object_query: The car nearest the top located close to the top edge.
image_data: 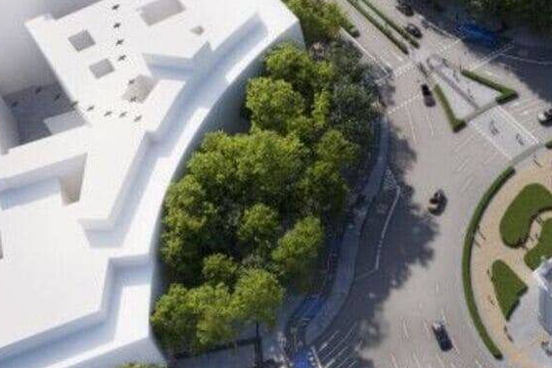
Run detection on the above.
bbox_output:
[397,0,411,13]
